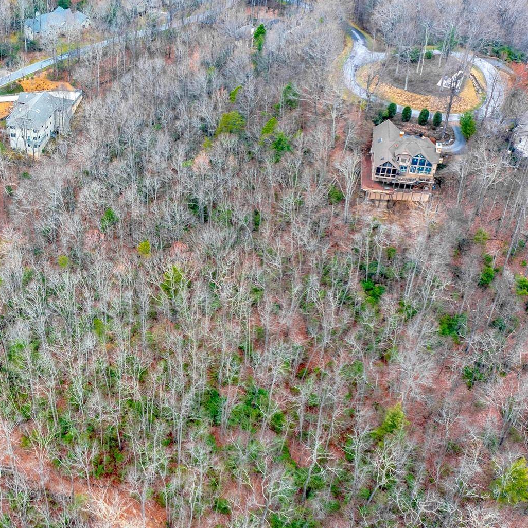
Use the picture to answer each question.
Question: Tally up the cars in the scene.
zero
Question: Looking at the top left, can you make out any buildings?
Yes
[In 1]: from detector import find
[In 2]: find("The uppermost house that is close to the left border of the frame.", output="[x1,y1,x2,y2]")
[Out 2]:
[21,11,89,43]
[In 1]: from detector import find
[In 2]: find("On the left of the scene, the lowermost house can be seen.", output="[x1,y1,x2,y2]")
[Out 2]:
[4,87,85,156]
